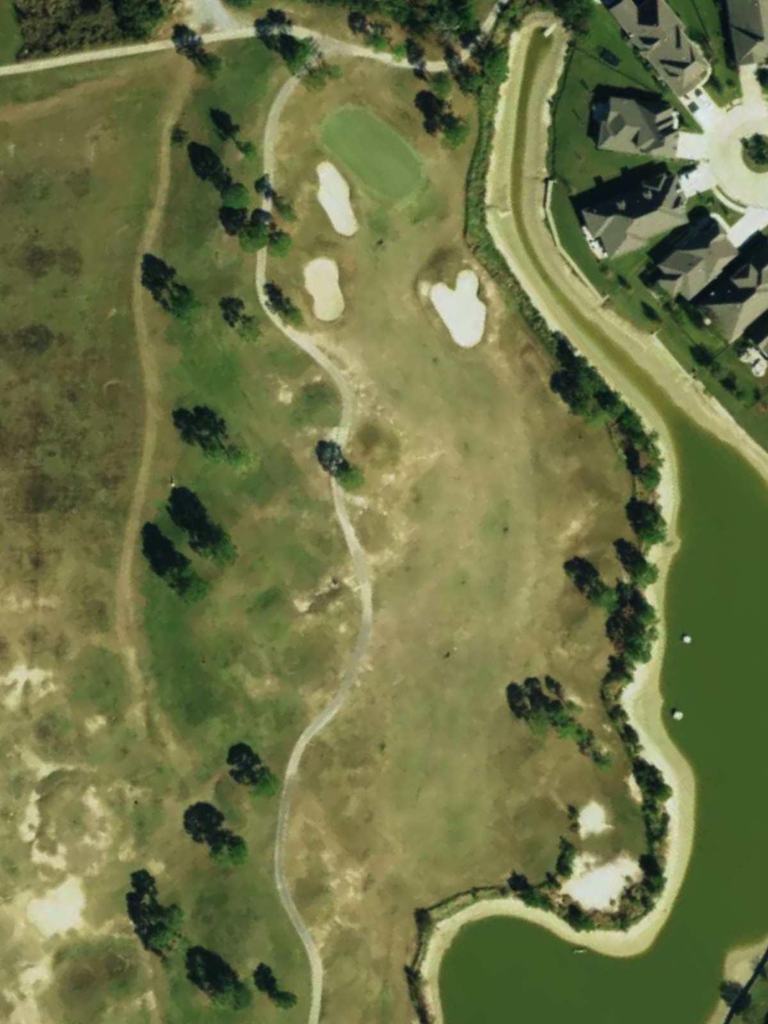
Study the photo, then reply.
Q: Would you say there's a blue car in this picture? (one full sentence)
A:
No, I find no blue car anywhere in the image.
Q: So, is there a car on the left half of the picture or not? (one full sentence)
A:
No, I can find no car on the left half of the picture.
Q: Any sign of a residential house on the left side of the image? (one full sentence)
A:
No, on the left side of the image there is no residential house.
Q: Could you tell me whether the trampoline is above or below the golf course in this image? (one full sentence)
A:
It's above the golf course that the trampoline shows up.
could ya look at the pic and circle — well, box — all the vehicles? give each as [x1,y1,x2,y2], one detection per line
[694,110,713,131]
[700,96,717,115]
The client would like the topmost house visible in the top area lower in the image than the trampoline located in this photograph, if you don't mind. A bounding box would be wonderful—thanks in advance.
[598,96,683,158]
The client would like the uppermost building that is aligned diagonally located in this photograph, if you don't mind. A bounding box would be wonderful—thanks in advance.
[602,0,712,98]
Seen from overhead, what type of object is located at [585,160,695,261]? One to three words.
house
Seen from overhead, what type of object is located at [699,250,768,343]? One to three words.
house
